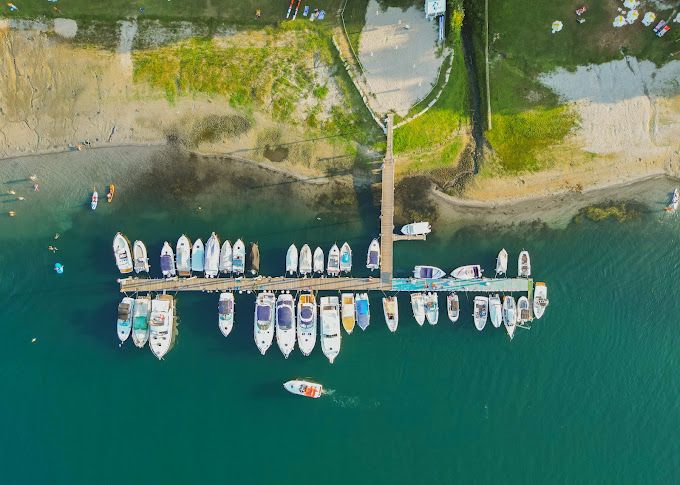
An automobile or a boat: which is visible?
boat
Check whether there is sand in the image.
Yes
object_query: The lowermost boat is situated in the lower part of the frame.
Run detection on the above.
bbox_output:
[282,379,323,397]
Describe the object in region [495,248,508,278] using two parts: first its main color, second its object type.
white boat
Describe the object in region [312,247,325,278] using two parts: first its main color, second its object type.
white boat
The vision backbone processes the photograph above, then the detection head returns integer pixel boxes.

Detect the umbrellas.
[550,21,562,33]
[624,9,639,22]
[639,12,654,25]
[622,0,637,10]
[610,15,625,29]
